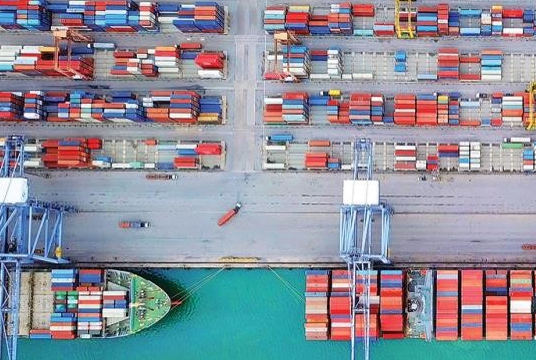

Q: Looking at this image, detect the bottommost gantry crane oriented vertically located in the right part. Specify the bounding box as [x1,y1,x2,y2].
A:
[335,137,397,360]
